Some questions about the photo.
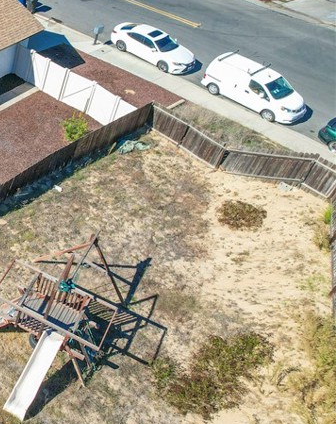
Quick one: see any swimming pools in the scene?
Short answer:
No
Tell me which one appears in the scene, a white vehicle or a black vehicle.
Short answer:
white vehicle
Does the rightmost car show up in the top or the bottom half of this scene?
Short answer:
top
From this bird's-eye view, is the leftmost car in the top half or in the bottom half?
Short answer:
top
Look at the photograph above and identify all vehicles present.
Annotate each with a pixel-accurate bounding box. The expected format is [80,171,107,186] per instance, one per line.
[308,115,336,155]
[199,52,307,126]
[109,24,197,76]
